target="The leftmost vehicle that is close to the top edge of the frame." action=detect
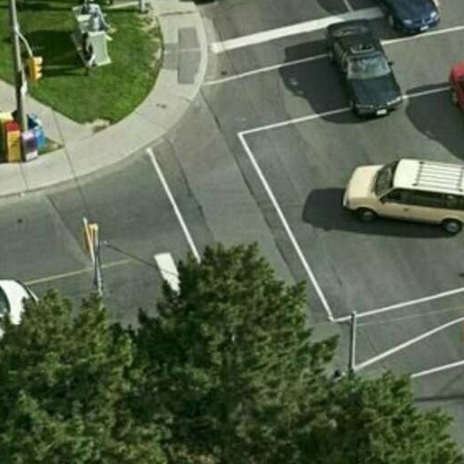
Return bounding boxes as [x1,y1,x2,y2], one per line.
[323,11,404,111]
